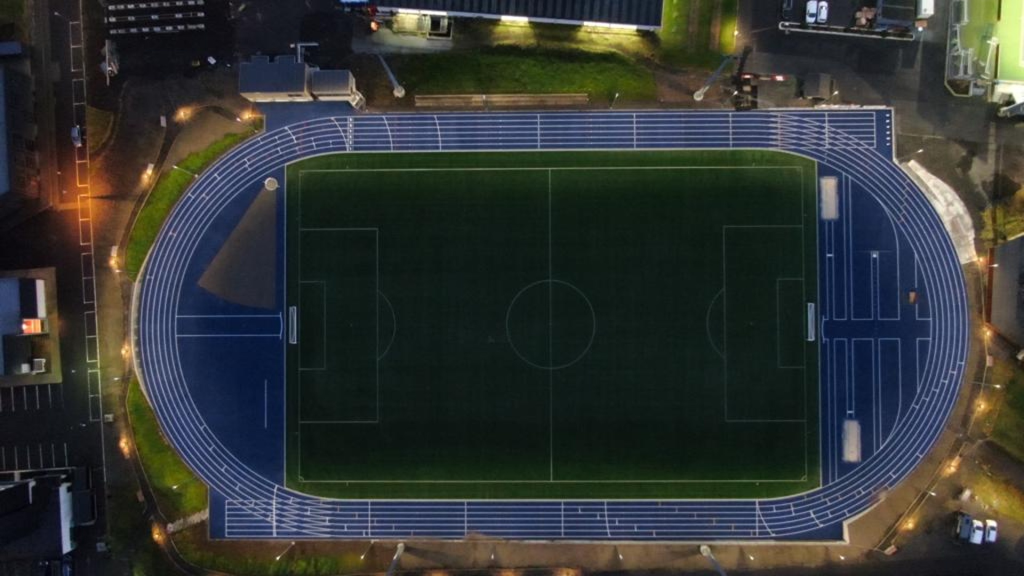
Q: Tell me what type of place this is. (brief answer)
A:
sports ground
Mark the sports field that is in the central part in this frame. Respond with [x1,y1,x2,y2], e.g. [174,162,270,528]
[284,149,823,500]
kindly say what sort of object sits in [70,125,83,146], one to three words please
vehicle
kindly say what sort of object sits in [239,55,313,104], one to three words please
building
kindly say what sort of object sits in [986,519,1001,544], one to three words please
vehicle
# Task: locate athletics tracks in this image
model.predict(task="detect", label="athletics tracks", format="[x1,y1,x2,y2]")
[138,110,971,539]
